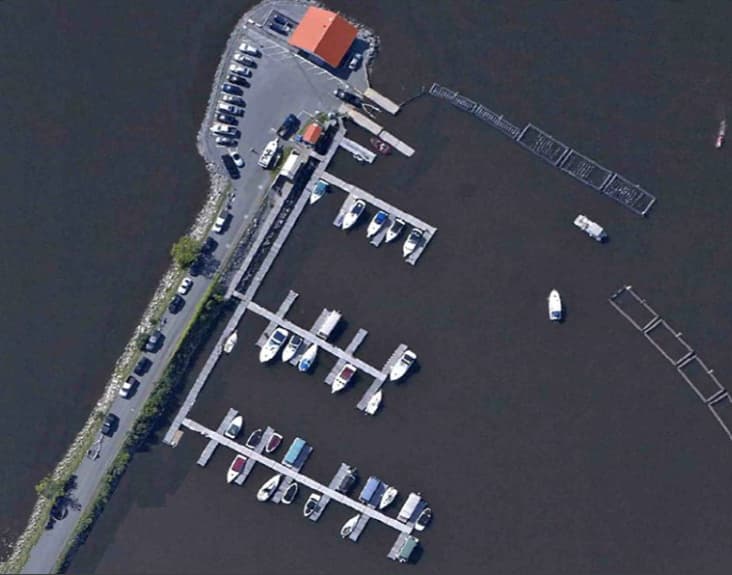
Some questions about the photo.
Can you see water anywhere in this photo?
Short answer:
Yes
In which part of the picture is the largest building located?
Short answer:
top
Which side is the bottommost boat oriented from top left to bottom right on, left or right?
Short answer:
right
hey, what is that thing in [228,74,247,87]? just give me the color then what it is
black vehicle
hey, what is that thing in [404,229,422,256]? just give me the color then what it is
white boat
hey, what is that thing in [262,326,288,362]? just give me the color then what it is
white boat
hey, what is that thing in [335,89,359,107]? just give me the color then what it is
black vehicle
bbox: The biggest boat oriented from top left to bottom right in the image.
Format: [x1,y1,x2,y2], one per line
[575,217,603,240]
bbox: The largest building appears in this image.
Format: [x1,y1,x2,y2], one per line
[290,6,357,68]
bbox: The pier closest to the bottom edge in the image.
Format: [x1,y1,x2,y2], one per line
[182,408,427,559]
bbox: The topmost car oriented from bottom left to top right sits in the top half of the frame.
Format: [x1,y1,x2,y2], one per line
[347,51,362,70]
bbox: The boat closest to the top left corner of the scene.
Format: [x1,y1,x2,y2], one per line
[258,142,278,169]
